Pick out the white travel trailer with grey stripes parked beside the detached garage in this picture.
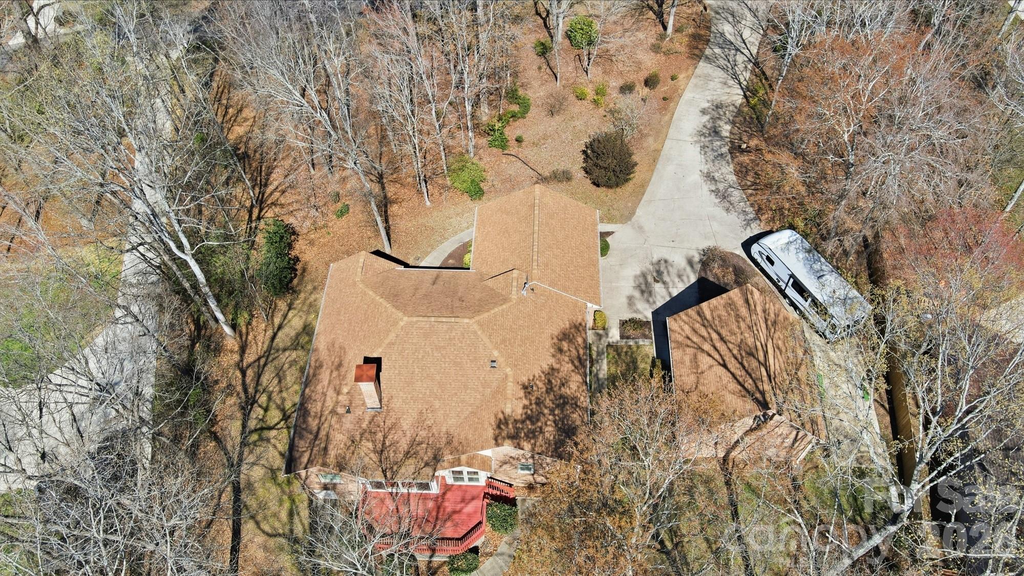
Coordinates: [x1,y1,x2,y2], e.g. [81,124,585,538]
[749,229,872,349]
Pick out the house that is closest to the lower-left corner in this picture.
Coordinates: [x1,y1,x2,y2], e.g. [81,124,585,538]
[281,187,603,509]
